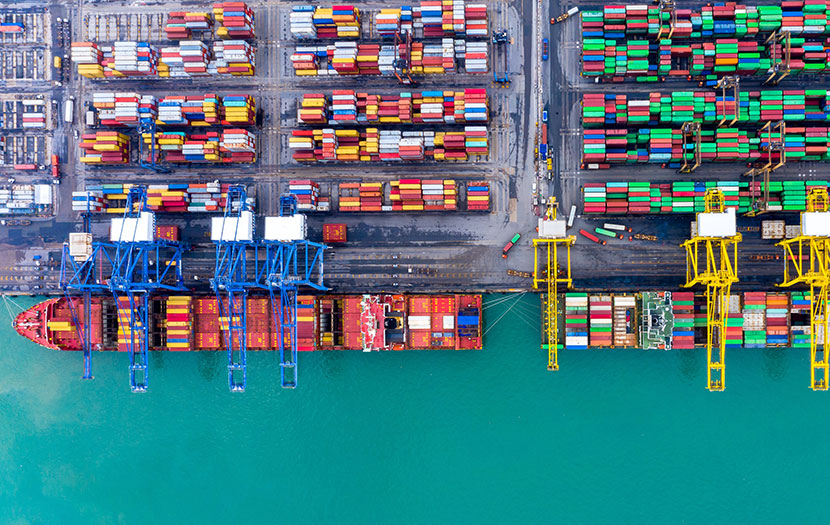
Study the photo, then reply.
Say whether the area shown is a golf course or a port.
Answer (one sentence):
The picture captures a port.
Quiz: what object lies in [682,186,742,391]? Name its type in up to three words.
container crane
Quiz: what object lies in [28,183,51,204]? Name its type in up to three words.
shed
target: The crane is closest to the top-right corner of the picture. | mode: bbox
[760,35,790,88]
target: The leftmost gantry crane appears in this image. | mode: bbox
[62,191,143,379]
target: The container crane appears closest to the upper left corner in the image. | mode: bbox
[138,117,178,173]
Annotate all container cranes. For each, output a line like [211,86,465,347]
[206,177,280,391]
[682,186,742,391]
[394,29,419,86]
[712,76,740,132]
[105,178,190,392]
[739,168,768,218]
[62,191,143,379]
[138,117,178,173]
[529,190,575,371]
[779,186,830,391]
[755,122,786,171]
[674,120,700,174]
[260,187,330,388]
[651,0,675,44]
[760,35,790,88]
